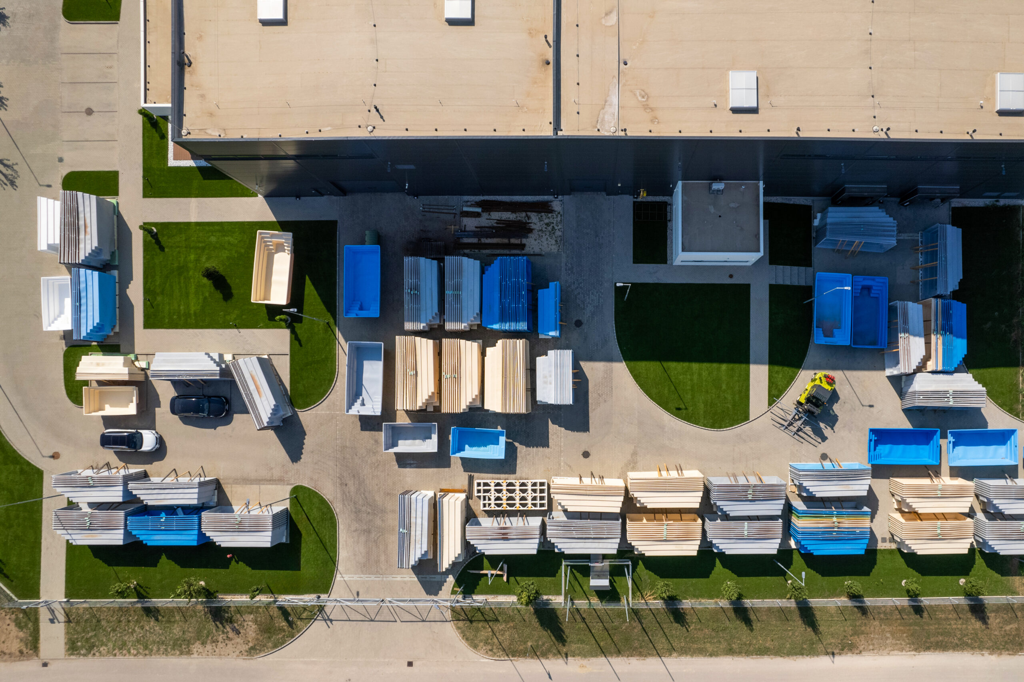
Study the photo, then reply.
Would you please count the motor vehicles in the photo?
3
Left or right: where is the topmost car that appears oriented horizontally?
left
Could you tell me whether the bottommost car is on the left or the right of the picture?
left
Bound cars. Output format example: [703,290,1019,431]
[95,426,163,455]
[169,392,232,421]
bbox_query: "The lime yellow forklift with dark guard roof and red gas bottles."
[788,369,839,432]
